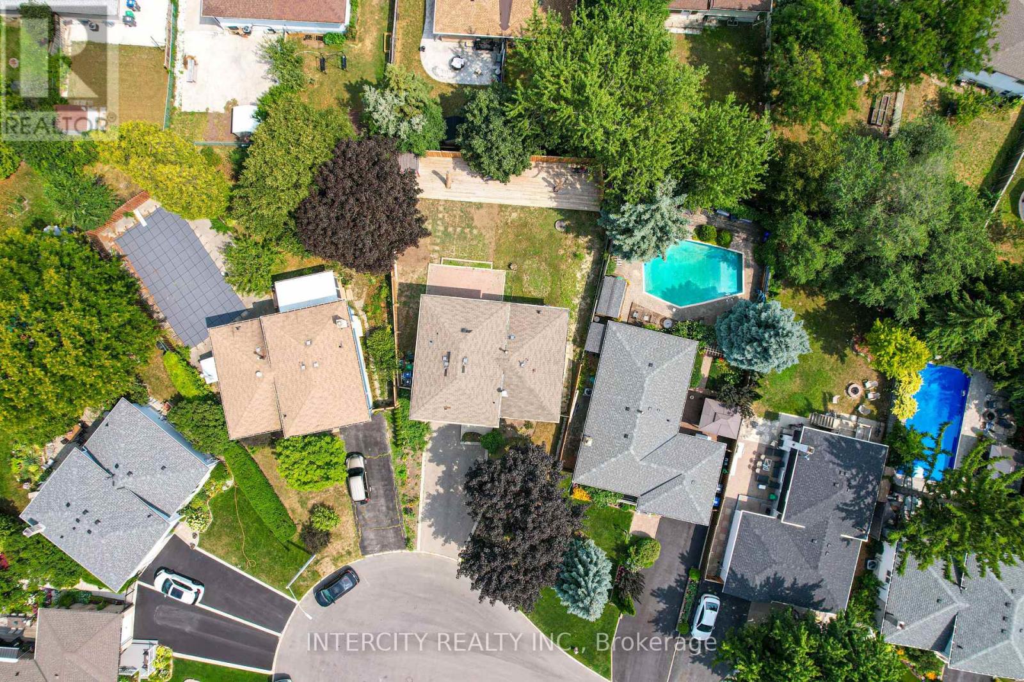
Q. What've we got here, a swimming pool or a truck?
swimming pool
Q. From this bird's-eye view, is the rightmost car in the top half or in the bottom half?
bottom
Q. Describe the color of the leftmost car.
white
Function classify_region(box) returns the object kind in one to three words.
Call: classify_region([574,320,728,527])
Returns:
house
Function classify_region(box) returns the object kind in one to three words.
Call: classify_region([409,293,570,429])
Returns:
house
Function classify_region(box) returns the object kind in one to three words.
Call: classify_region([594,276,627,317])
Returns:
shed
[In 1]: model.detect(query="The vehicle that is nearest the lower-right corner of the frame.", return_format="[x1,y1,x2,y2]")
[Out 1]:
[690,594,718,640]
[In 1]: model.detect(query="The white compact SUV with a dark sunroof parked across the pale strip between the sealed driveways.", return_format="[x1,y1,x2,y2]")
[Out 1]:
[155,568,207,605]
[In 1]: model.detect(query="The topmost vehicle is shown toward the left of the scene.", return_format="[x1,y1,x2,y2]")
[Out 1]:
[344,451,374,505]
